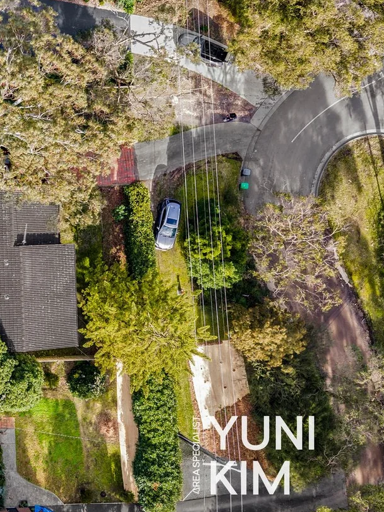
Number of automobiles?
two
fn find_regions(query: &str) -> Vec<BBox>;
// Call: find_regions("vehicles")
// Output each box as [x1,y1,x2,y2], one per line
[151,198,180,250]
[173,32,228,71]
